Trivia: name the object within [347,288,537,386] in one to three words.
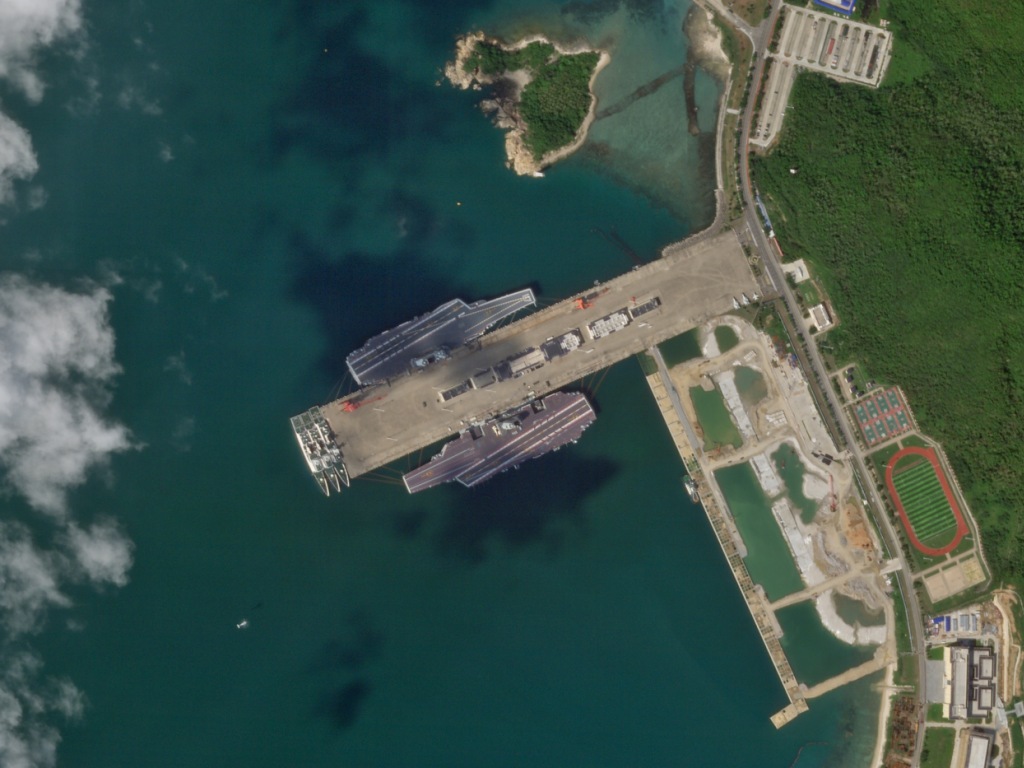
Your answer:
ship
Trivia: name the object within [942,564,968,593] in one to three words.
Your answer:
sports court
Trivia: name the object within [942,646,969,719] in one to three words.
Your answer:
building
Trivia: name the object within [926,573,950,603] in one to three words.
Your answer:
sports court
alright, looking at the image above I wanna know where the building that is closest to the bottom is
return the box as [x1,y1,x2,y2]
[957,730,994,768]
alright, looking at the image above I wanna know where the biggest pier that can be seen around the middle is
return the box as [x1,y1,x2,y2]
[320,229,762,479]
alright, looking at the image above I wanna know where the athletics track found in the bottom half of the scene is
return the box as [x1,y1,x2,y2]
[887,446,965,556]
